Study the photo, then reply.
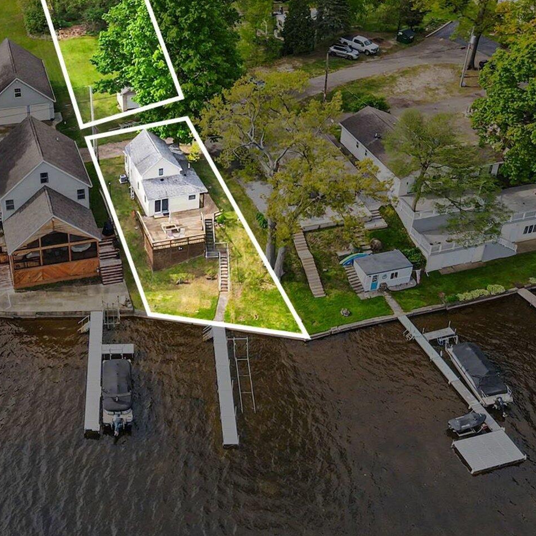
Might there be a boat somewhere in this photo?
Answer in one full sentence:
Yes, looking at the shot, I can spot a boat.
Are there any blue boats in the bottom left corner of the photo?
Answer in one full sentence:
No, there is no blue boat in the bottom left corner of the photo.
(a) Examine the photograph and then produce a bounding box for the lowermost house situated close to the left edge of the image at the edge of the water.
[0,117,105,289]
